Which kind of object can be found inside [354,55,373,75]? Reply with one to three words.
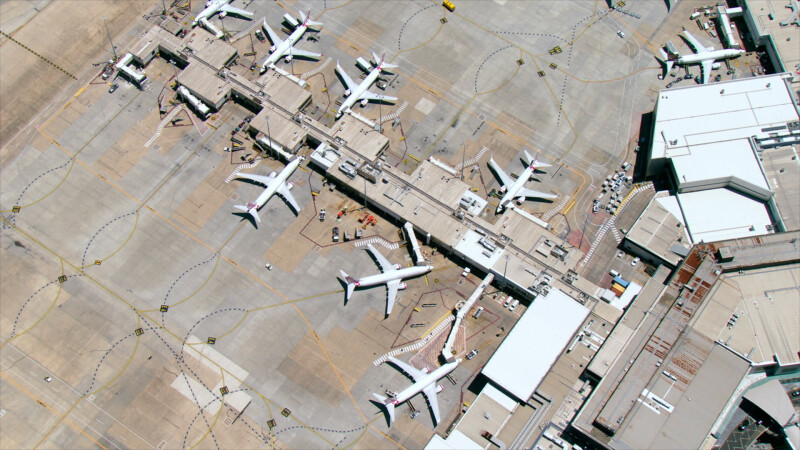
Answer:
vehicle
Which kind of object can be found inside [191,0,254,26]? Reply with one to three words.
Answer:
airplane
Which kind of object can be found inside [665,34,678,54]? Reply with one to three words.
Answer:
vehicle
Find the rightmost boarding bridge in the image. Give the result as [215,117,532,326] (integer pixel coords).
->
[718,5,742,56]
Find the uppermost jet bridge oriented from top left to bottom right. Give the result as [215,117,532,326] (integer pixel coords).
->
[192,14,226,44]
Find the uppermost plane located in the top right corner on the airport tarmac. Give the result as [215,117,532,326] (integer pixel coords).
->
[663,27,744,83]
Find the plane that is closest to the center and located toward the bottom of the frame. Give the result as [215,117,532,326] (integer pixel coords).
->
[341,242,433,313]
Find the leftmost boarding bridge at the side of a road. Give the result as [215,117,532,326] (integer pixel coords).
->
[114,50,152,89]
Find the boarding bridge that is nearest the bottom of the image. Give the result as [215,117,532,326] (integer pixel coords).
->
[444,273,495,364]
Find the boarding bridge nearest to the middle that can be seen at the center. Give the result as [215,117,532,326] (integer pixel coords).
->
[405,222,426,271]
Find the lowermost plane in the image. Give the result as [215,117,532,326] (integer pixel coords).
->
[374,356,461,423]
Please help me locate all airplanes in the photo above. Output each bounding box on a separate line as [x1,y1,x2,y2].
[191,0,254,26]
[335,51,398,117]
[491,150,558,212]
[341,242,433,313]
[663,27,744,83]
[374,356,461,423]
[259,9,323,73]
[236,158,304,222]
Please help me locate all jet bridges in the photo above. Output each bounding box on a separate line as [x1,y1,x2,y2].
[114,50,152,89]
[444,273,495,364]
[718,5,742,56]
[265,60,306,91]
[177,84,216,122]
[499,197,552,230]
[192,14,226,44]
[255,133,301,170]
[340,104,381,134]
[420,153,461,181]
[405,222,426,271]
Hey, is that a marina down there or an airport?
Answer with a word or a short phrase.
airport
